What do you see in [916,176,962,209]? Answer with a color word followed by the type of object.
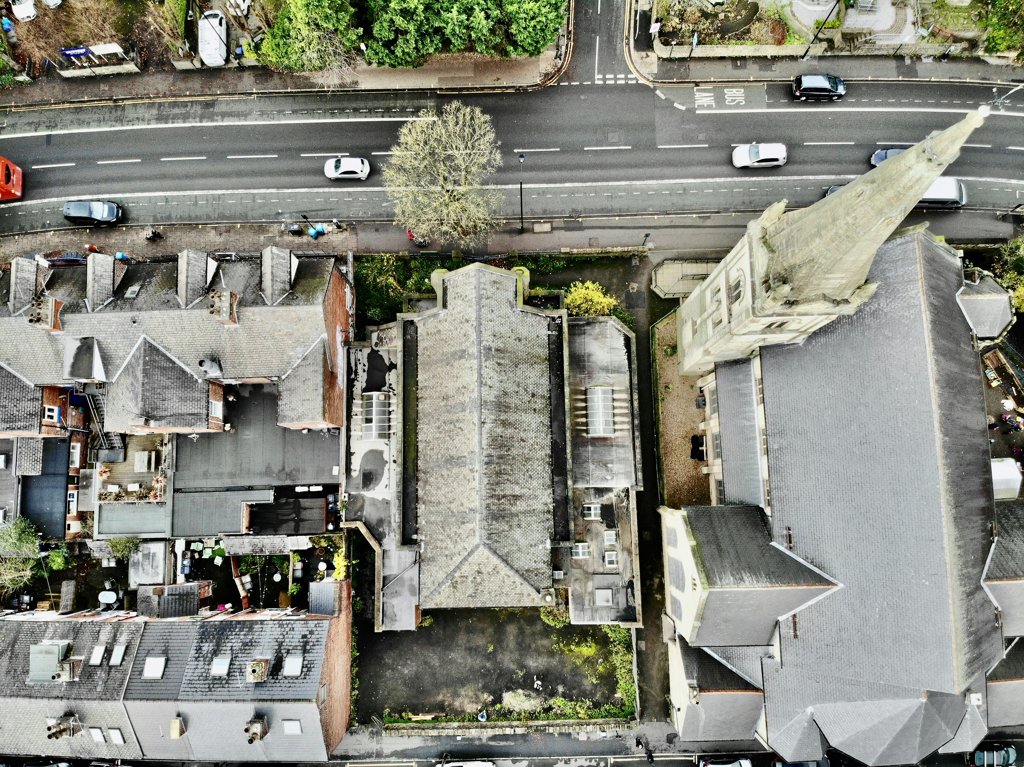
white van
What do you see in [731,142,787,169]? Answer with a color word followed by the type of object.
white car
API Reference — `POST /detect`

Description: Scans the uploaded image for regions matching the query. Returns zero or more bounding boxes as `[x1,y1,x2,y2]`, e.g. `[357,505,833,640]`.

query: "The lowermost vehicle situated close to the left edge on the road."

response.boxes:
[0,166,38,209]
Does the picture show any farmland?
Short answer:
No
